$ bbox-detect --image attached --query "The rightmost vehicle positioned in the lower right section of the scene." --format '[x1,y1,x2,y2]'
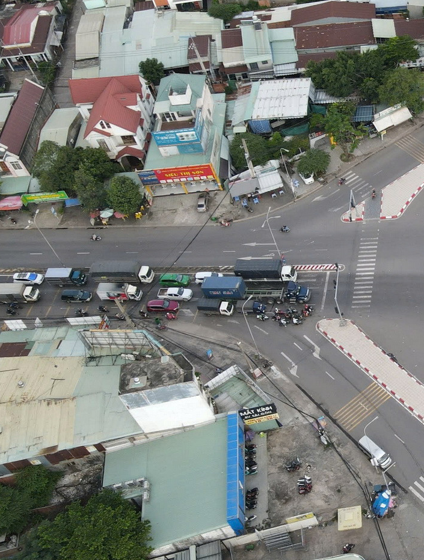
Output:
[357,430,394,471]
